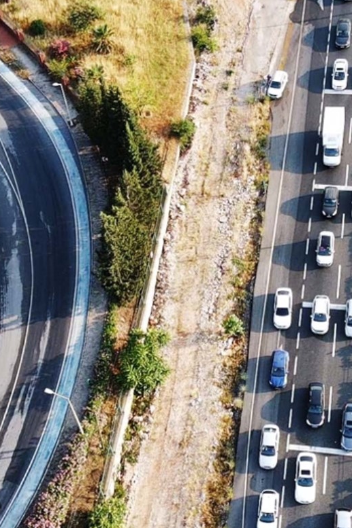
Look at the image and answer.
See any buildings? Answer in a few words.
No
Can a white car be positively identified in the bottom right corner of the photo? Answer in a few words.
Yes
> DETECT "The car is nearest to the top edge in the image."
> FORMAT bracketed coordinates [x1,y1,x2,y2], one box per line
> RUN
[333,20,352,48]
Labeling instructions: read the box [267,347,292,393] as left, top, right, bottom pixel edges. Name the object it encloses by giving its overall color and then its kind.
blue car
